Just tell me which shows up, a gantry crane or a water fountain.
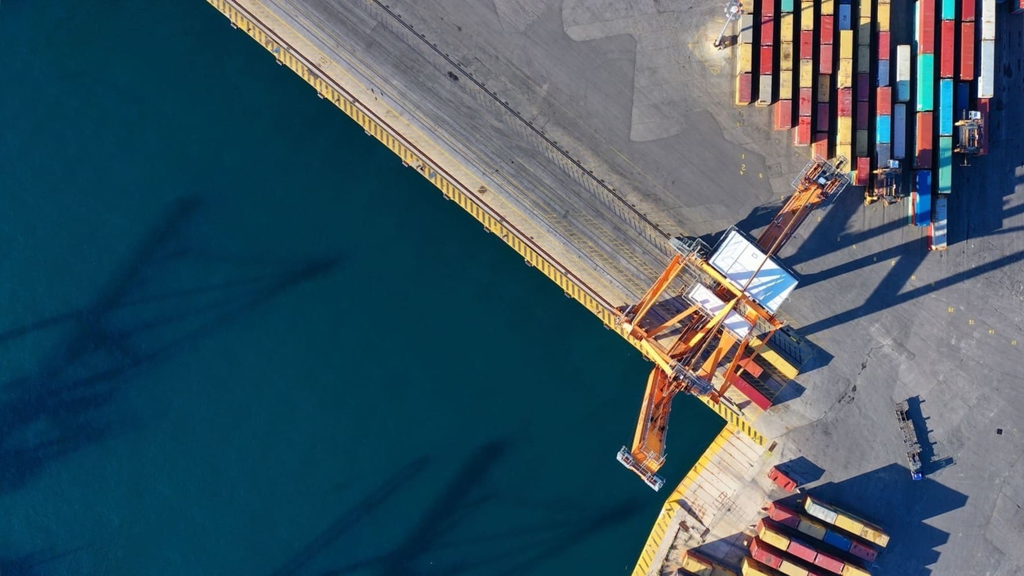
gantry crane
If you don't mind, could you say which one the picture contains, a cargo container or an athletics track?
cargo container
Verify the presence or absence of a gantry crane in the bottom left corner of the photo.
No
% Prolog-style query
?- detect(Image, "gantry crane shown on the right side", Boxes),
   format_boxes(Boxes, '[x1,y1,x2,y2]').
[607,148,852,487]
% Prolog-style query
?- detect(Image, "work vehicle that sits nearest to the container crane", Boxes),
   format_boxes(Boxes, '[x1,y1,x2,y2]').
[863,157,899,207]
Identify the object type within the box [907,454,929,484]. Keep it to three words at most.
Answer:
truck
